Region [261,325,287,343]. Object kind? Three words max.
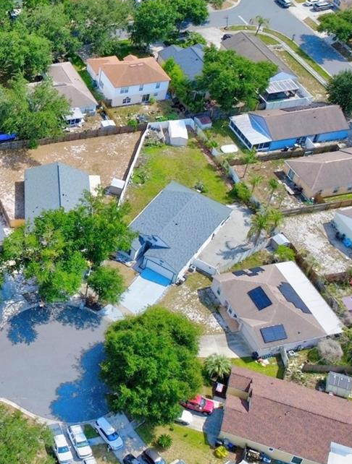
solar panel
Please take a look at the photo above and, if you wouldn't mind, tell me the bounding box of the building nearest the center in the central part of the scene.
[119,181,225,287]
